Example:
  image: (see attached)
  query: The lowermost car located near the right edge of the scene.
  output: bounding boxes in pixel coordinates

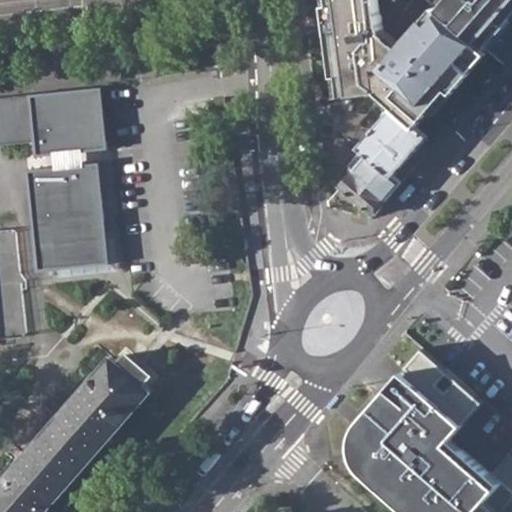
[483,412,502,432]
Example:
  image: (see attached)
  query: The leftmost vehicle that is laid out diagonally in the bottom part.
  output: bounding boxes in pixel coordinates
[198,452,220,478]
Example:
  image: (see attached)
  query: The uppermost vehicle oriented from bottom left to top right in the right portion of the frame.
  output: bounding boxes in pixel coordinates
[490,108,508,127]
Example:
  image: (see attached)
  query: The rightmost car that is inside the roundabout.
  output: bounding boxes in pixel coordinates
[361,256,382,274]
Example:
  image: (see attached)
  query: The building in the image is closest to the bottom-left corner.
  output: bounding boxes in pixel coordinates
[0,358,149,512]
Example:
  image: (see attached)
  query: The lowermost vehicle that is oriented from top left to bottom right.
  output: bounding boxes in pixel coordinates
[478,258,500,278]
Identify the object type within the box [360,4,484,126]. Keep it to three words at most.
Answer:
building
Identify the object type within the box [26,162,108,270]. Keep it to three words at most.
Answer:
building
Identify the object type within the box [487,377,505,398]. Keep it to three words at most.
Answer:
car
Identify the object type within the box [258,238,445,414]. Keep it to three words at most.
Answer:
roundabout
